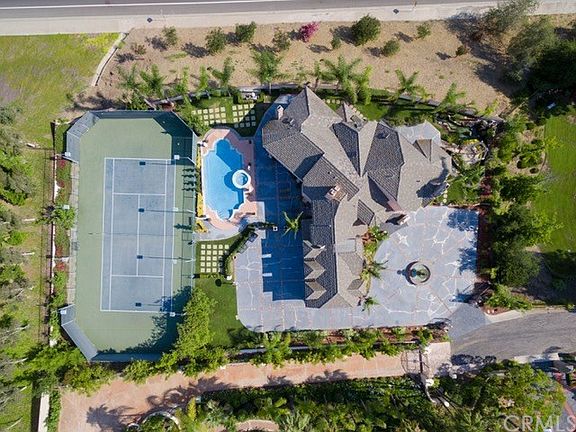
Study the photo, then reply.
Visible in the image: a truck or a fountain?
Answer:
fountain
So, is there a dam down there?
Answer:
No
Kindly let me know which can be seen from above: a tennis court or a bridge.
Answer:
tennis court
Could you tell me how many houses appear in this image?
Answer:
1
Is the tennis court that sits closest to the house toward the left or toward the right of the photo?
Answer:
left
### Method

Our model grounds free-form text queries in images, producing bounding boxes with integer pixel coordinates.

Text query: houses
[263,87,452,309]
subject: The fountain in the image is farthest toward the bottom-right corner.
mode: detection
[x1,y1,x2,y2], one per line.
[407,260,432,286]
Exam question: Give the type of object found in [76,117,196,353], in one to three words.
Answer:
tennis court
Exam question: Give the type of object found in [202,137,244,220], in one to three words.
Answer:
swimming pool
